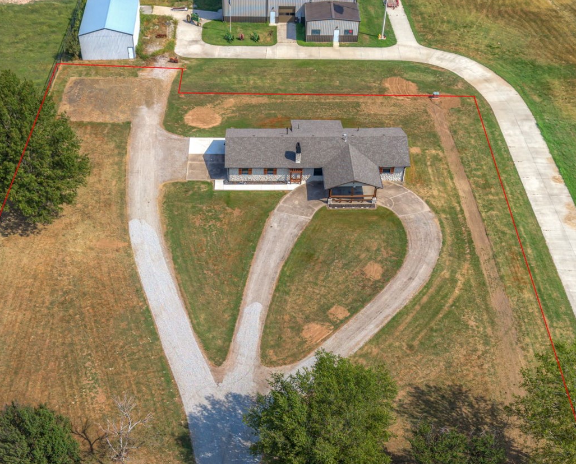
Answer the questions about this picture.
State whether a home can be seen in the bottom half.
No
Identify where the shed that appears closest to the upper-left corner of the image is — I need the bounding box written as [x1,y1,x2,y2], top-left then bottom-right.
[78,0,138,62]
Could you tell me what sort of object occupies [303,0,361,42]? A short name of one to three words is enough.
building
